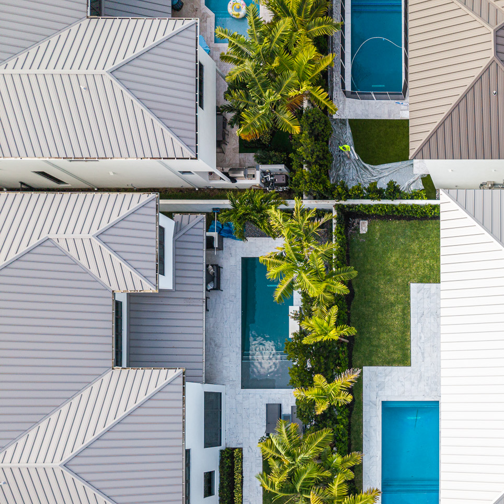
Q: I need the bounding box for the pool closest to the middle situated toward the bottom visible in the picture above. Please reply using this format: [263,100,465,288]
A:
[238,254,295,391]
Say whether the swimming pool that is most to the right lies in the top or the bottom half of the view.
bottom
